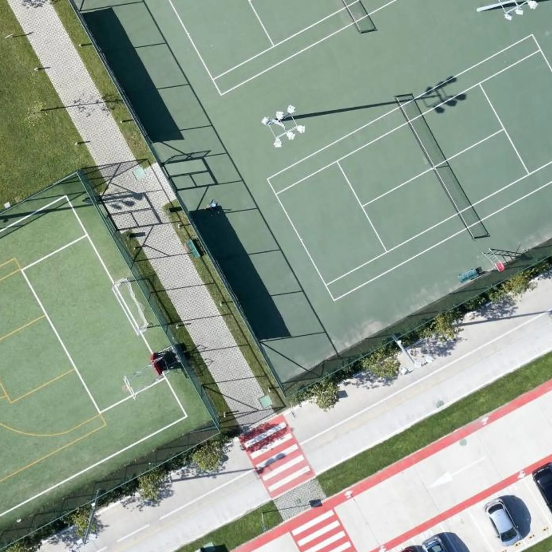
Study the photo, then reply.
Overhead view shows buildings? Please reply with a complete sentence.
No, the frame has no building in it.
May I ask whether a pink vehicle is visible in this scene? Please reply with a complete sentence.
No, there is no pink vehicle in the image.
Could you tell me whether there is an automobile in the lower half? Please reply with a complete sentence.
Yes, in the lower half there is an automobile.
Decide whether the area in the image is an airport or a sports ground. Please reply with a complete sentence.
The picture captures a sports ground.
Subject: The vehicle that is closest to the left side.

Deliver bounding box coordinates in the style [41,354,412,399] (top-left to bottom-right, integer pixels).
[427,533,455,552]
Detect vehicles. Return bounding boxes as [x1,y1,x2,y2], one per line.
[482,494,523,547]
[427,533,455,552]
[532,461,552,511]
